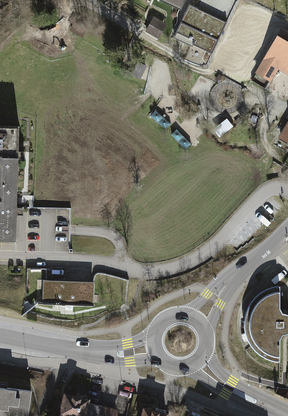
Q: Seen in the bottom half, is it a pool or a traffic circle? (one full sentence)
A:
There is a traffic circle in the bottom half.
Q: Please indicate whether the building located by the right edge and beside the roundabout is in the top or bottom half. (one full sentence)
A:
The bottom half of the photo is where the building located by the right edge and beside the roundabout is.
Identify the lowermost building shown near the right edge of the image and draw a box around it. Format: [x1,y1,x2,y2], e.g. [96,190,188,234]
[243,286,288,364]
